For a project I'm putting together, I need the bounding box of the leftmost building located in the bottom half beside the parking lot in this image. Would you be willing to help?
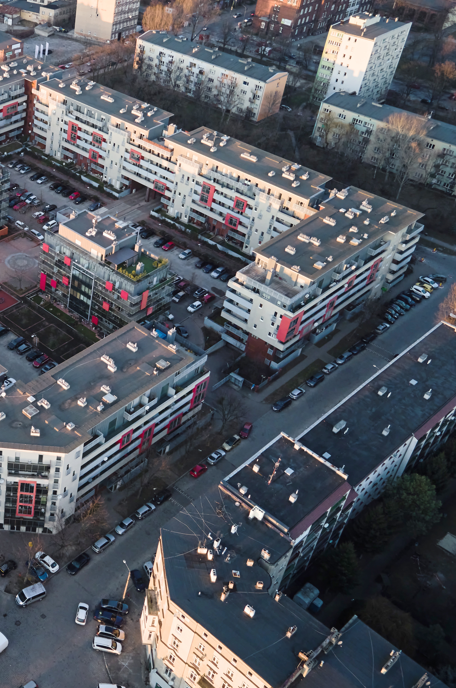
[0,322,196,535]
